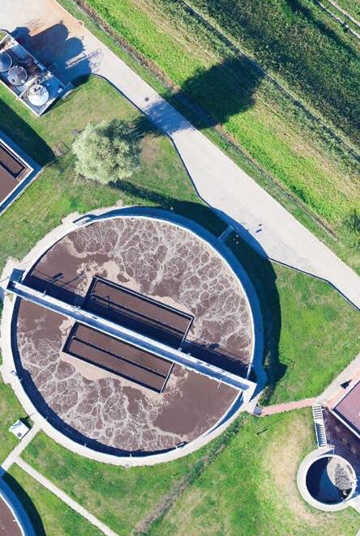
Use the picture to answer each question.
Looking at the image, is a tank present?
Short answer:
Yes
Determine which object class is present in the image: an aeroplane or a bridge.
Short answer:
bridge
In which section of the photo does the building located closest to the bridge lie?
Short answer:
bottom right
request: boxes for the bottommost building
[330,376,360,434]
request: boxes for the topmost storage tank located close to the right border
[298,447,360,510]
